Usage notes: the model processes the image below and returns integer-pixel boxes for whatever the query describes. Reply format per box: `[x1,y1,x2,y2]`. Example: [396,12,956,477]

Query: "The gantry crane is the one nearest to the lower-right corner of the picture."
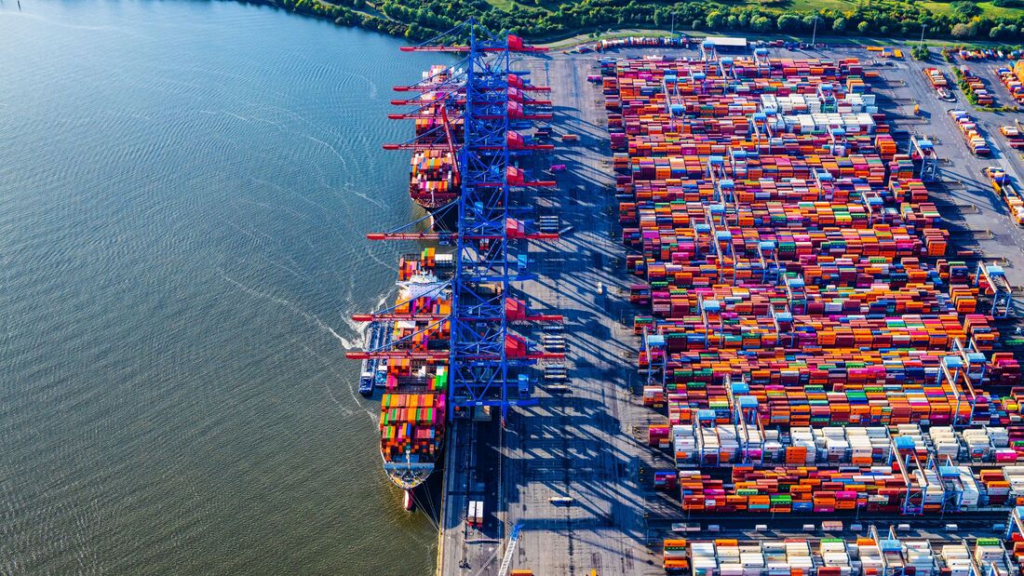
[1004,503,1024,547]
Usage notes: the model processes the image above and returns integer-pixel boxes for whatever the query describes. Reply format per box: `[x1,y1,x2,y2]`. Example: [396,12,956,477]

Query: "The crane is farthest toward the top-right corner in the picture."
[913,133,946,186]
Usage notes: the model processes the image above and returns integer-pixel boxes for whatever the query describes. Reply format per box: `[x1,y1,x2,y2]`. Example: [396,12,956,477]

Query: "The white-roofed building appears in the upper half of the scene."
[702,36,754,54]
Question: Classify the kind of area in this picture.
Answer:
port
